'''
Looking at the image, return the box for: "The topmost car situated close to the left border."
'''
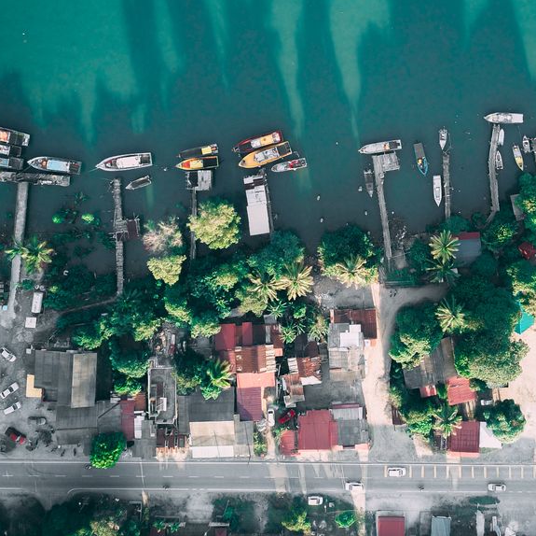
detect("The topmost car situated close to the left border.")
[0,346,17,360]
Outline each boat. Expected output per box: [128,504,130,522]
[171,145,219,162]
[414,143,428,176]
[92,153,154,172]
[355,139,402,155]
[168,157,219,170]
[495,147,503,169]
[270,156,308,171]
[231,130,284,153]
[0,157,25,171]
[0,143,23,157]
[434,176,442,210]
[232,141,294,166]
[484,113,523,124]
[124,176,153,189]
[512,145,523,170]
[365,169,374,197]
[439,130,447,157]
[498,127,505,145]
[24,158,83,177]
[522,136,531,154]
[0,127,30,146]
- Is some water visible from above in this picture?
Yes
